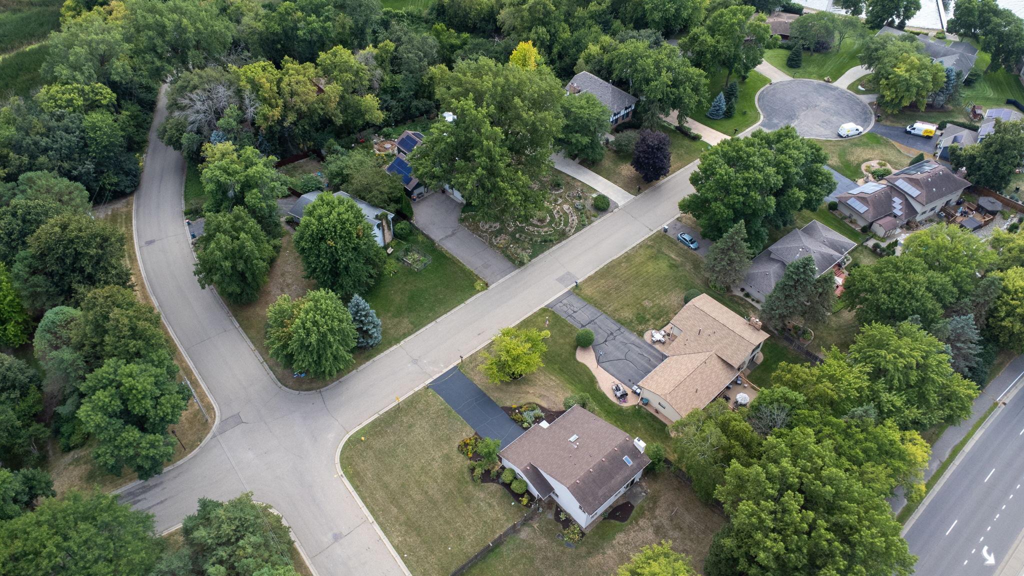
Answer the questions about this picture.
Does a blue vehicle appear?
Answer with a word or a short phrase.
Yes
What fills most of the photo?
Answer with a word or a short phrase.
trees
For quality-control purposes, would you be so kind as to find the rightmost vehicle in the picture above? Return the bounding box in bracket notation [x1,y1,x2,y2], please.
[905,122,937,139]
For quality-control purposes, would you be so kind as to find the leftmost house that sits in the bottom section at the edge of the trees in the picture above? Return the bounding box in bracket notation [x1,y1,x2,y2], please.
[498,405,652,528]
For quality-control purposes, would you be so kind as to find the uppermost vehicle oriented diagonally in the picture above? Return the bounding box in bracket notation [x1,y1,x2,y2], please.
[677,233,701,250]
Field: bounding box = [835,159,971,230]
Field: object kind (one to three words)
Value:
house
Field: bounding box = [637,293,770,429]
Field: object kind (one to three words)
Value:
house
